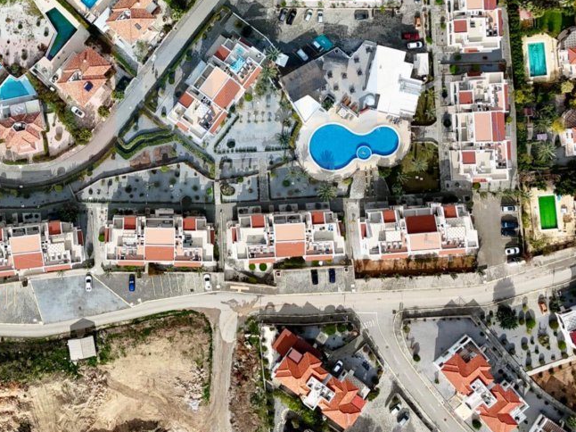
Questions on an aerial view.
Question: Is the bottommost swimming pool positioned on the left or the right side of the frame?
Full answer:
The bottommost swimming pool is on the right side of the image.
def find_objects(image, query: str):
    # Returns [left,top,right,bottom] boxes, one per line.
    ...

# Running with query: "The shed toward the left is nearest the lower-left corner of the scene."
[67,337,96,365]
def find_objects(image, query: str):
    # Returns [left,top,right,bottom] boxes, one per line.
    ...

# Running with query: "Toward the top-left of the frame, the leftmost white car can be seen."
[70,106,86,118]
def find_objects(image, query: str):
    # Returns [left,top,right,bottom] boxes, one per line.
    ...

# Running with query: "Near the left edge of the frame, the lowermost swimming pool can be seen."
[0,73,41,104]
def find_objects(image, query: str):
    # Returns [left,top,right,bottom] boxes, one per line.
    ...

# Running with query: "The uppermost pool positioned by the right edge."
[523,34,557,82]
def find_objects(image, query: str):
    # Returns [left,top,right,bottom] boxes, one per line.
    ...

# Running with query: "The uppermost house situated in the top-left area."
[105,0,161,46]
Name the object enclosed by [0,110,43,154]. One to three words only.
house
